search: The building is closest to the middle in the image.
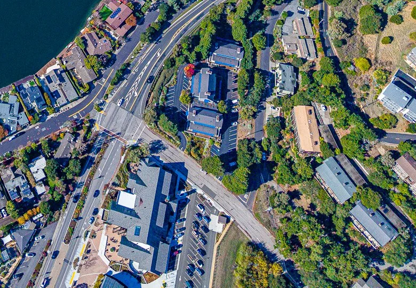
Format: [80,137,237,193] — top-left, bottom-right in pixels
[187,109,224,145]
